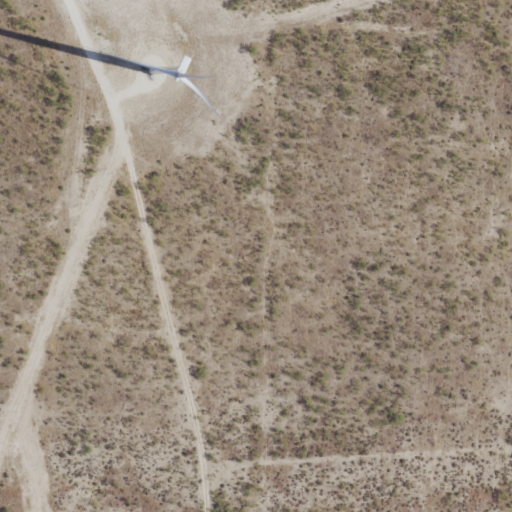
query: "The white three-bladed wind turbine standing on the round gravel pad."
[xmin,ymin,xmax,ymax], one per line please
[90,53,222,118]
